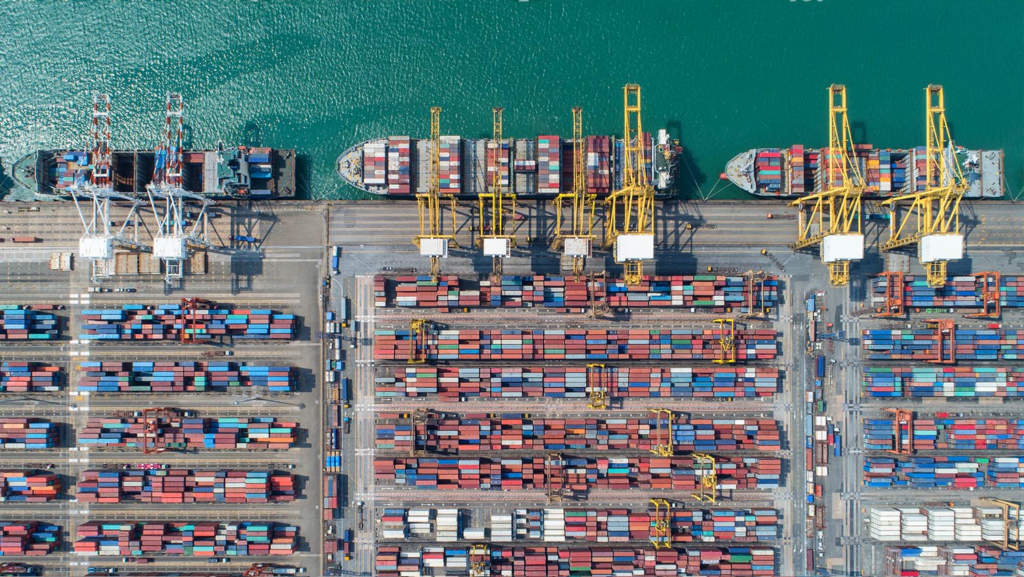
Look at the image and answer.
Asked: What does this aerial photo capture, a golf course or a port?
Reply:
port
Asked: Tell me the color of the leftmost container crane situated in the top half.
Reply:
white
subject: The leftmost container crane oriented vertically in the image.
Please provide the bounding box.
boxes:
[67,92,155,282]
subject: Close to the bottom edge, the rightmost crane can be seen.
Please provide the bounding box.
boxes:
[982,497,1021,552]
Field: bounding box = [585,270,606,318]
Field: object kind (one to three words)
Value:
container crane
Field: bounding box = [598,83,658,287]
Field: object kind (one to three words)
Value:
container crane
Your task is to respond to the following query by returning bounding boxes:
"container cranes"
[142,407,175,458]
[962,270,1000,318]
[918,318,955,365]
[585,362,607,410]
[709,318,736,364]
[649,408,673,458]
[415,106,462,280]
[67,92,155,282]
[877,83,974,287]
[690,451,716,503]
[869,270,903,318]
[598,83,658,287]
[982,497,1021,552]
[408,318,430,364]
[180,297,211,345]
[544,451,565,503]
[737,270,765,318]
[585,270,606,318]
[409,408,432,458]
[145,92,223,282]
[551,106,598,280]
[476,106,520,280]
[878,408,912,458]
[787,83,871,287]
